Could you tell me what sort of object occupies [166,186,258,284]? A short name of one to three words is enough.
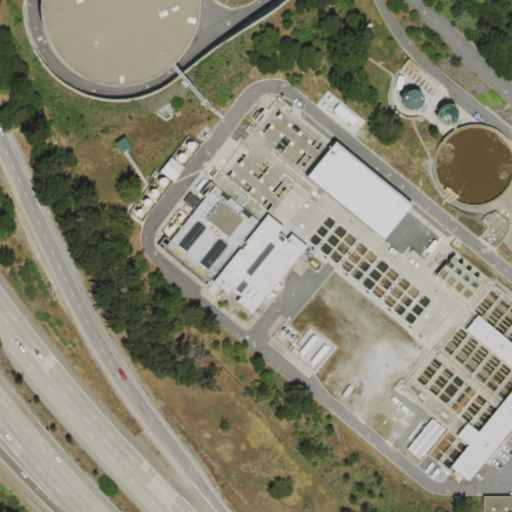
building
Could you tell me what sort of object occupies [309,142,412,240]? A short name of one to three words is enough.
building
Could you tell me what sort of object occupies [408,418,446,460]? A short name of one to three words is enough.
shed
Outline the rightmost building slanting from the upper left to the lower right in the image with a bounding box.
[467,316,512,366]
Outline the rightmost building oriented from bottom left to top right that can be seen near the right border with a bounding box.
[453,392,512,482]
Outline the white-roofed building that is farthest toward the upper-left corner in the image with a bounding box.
[160,157,184,182]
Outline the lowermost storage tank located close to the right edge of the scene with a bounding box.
[433,123,512,207]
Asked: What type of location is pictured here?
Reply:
industrial area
